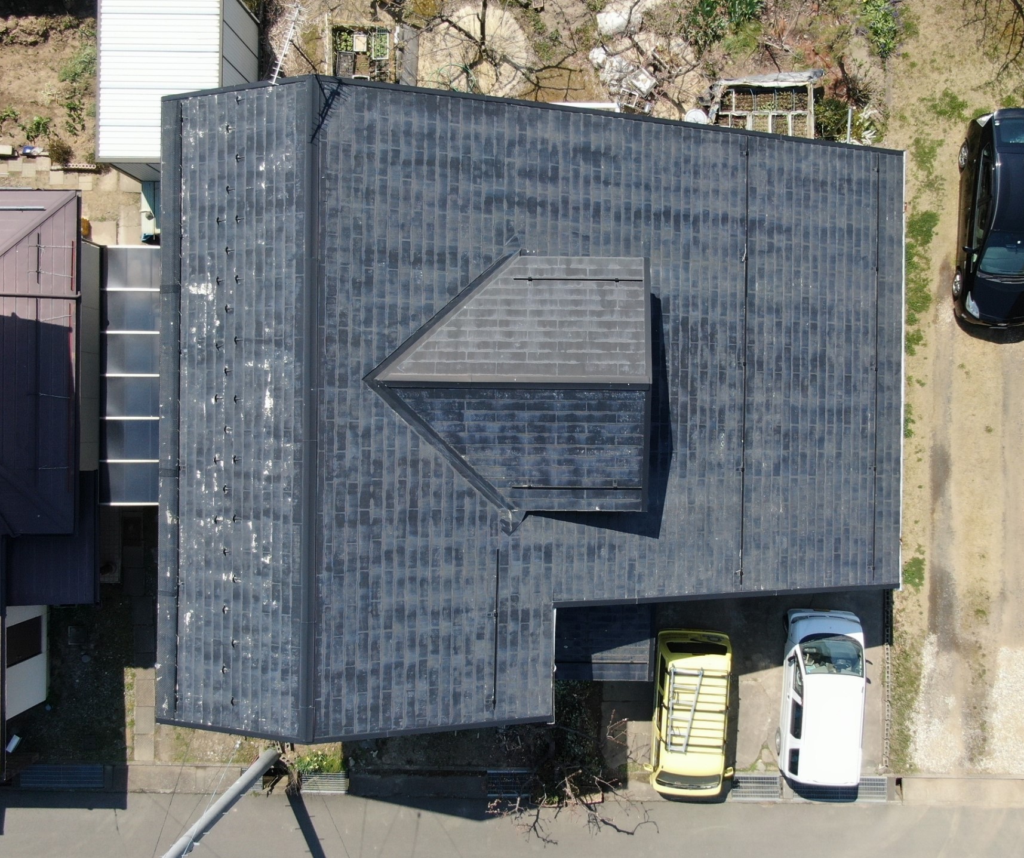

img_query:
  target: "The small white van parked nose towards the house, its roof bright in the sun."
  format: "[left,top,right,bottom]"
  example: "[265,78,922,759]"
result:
[771,607,869,790]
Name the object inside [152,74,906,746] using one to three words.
house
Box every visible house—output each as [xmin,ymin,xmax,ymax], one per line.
[152,74,906,746]
[0,185,104,606]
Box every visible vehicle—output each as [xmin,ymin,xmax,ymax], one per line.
[771,607,869,790]
[952,110,1024,331]
[642,631,739,803]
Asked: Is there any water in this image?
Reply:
No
